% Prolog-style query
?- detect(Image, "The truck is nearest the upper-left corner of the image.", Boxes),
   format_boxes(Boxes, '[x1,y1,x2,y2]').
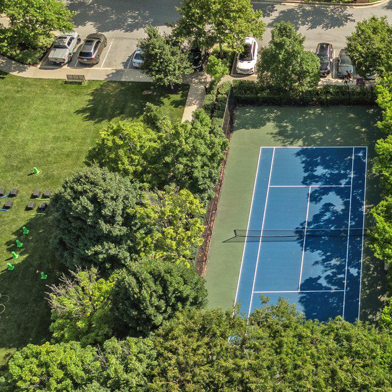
[47,27,81,63]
